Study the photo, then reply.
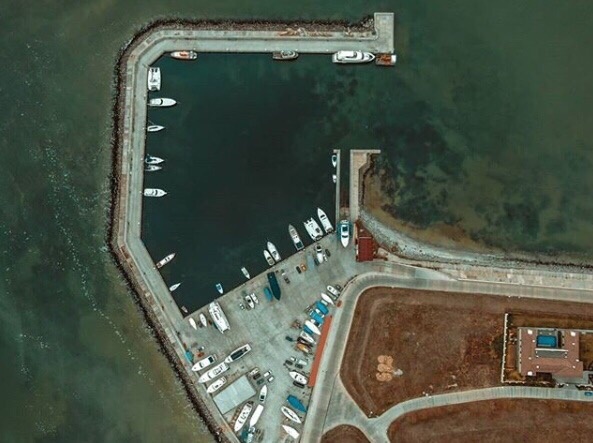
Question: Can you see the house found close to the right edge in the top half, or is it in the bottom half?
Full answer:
You can find the house found close to the right edge in the bottom half.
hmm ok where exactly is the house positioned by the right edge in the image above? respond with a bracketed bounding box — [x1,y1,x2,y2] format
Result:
[518,326,584,379]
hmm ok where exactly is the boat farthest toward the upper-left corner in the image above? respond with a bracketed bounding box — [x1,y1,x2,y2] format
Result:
[148,63,161,91]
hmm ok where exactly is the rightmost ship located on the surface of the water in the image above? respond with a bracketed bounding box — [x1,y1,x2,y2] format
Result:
[374,53,397,66]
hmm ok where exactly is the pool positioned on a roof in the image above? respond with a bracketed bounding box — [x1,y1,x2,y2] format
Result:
[537,335,557,347]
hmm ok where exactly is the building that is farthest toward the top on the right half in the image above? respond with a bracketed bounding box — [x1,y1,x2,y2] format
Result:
[358,237,374,261]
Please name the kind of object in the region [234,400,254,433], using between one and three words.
boat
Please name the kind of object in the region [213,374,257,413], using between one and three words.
shed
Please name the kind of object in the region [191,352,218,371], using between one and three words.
boat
